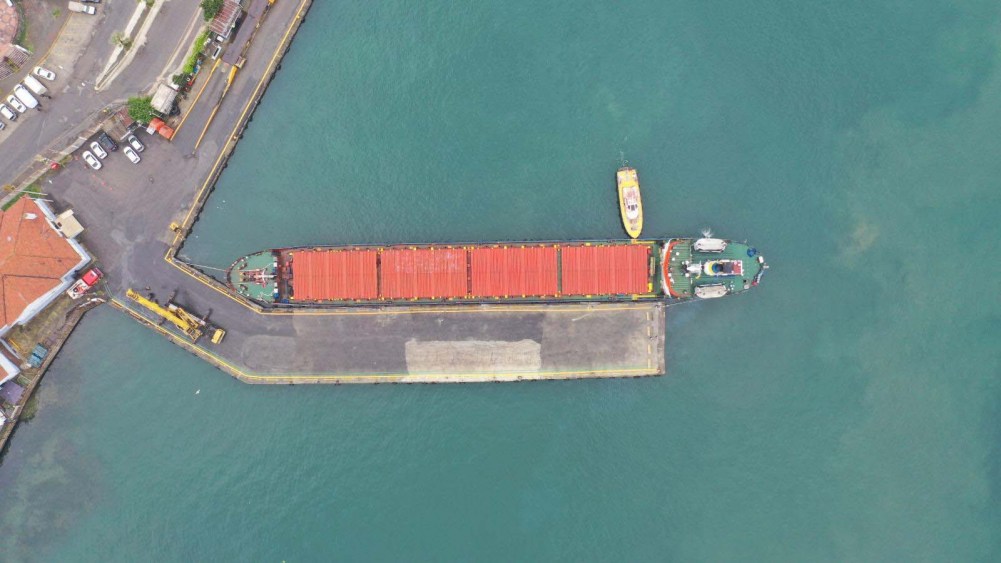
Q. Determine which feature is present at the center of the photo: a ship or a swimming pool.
ship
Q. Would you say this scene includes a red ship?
Yes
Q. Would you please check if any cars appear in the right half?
No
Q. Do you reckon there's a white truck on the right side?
No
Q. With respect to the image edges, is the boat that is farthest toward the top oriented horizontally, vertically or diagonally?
vertically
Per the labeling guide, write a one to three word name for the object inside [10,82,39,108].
vehicle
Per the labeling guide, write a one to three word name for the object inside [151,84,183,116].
shed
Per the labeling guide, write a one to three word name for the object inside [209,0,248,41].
shed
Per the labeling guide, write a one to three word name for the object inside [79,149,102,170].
car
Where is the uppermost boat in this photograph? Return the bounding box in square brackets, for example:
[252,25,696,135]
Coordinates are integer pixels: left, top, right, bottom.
[616,166,642,238]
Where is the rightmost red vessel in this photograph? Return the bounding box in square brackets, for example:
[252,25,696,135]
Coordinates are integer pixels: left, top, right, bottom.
[228,239,770,306]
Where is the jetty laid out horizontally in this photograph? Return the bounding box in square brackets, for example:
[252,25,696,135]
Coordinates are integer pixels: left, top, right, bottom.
[106,256,666,385]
